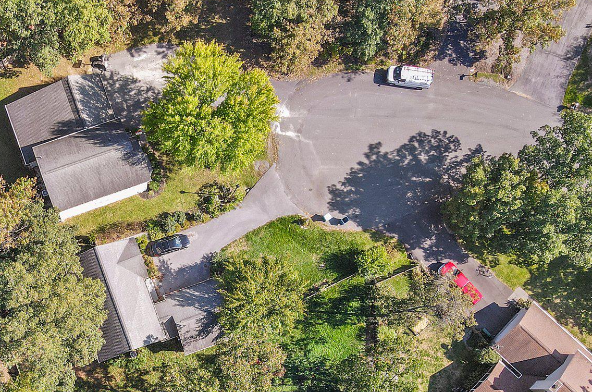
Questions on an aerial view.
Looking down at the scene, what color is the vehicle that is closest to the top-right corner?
white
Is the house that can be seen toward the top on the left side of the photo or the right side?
left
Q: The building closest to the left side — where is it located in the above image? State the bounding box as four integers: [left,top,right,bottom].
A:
[5,72,147,222]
